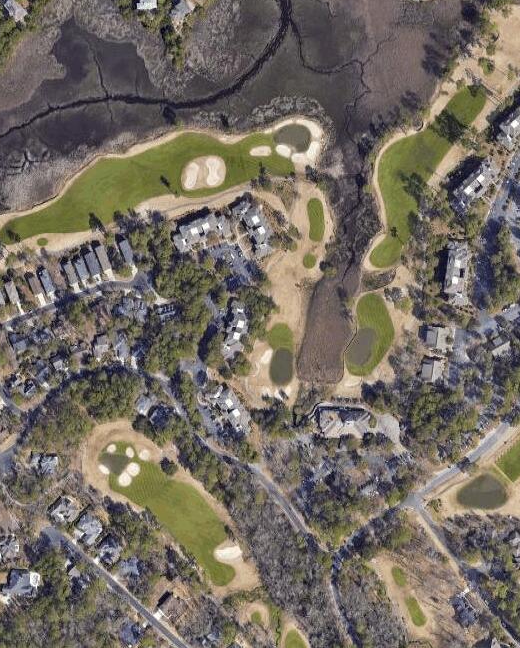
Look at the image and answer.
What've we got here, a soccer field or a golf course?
golf course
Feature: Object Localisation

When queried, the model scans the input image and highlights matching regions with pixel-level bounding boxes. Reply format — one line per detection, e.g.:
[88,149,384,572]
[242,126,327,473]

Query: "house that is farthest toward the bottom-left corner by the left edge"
[8,572,39,599]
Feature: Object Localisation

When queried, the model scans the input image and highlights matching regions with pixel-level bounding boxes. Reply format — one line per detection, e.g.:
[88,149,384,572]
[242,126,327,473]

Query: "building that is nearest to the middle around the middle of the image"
[221,301,248,357]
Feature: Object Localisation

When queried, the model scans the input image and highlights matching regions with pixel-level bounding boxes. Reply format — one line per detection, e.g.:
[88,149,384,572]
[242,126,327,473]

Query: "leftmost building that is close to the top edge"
[1,0,28,23]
